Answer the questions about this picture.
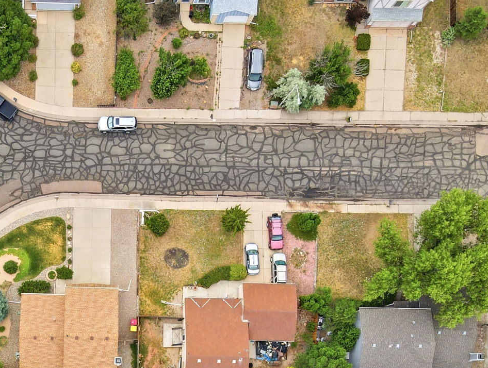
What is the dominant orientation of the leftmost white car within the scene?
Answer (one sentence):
The leftmost white car is oriented from left to right.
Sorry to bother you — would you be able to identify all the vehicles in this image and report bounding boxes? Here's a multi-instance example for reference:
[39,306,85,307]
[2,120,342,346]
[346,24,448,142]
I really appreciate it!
[245,47,265,92]
[0,96,22,124]
[241,242,260,276]
[97,113,138,134]
[266,211,285,252]
[268,252,288,283]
